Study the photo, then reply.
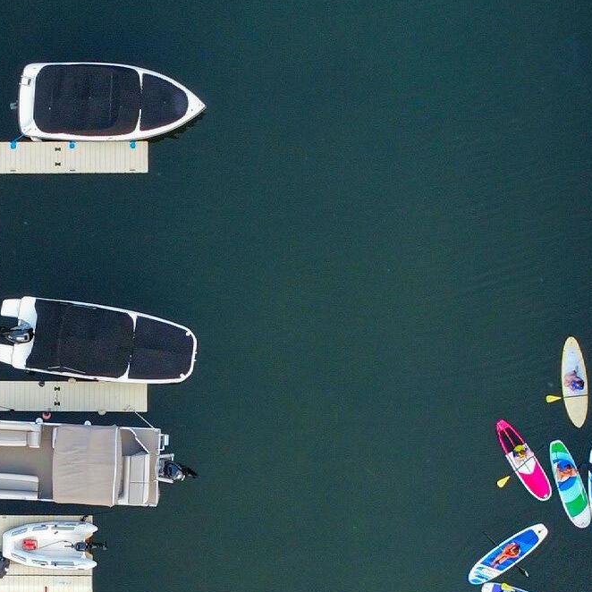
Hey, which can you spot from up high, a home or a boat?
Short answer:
boat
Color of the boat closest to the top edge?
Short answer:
black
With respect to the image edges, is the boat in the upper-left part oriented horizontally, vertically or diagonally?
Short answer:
horizontally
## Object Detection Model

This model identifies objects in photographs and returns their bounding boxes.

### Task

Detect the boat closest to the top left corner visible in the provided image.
[9,62,205,143]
